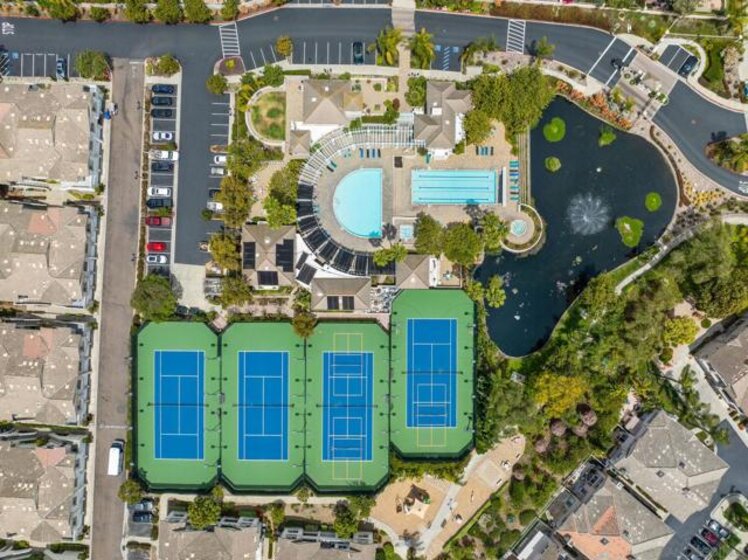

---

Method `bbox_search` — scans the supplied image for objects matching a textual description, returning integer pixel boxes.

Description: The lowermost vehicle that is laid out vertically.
[109,439,124,474]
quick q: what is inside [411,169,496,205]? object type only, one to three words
swimming pool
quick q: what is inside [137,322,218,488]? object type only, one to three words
tennis court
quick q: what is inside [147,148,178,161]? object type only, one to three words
vehicle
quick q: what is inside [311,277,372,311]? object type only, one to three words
building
